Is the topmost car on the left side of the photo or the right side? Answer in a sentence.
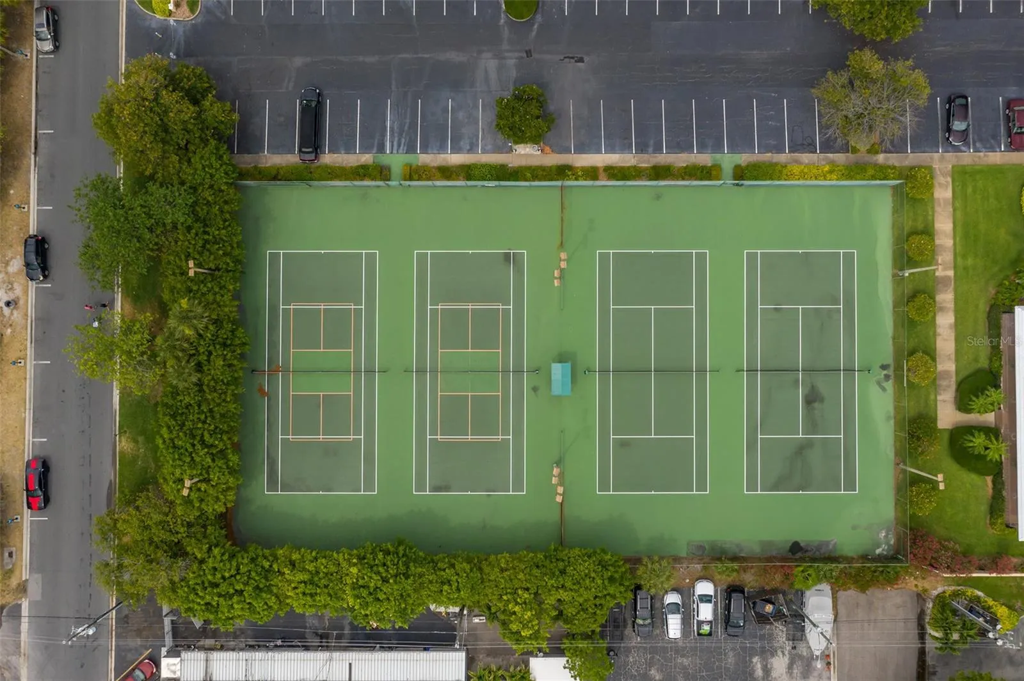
The topmost car sits on the left side.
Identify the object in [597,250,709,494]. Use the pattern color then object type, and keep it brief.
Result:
green tennis court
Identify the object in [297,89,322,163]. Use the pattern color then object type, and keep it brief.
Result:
black vehicle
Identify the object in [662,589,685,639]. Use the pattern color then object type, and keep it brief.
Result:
white car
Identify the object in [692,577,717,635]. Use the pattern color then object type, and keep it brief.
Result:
white truck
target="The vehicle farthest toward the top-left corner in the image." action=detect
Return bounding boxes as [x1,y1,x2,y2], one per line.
[34,5,61,53]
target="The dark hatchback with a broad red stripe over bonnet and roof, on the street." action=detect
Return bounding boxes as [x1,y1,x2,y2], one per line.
[25,459,52,508]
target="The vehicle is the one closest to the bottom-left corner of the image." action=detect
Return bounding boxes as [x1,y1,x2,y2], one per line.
[123,661,157,681]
